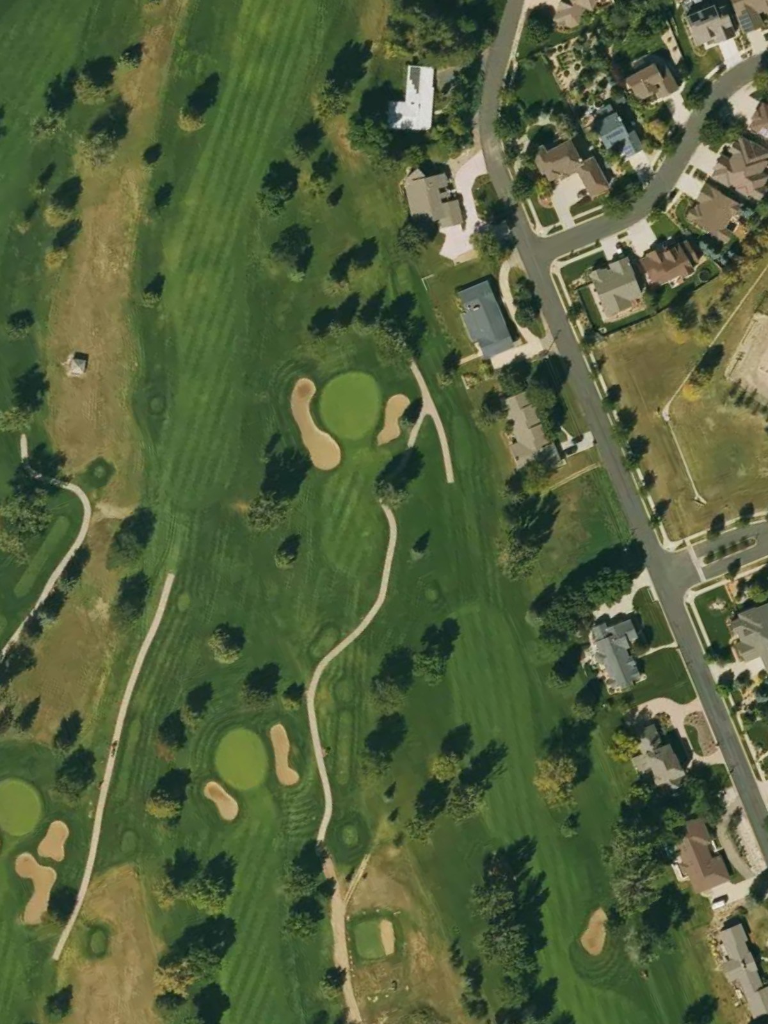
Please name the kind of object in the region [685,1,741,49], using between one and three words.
house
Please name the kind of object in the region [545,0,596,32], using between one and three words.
house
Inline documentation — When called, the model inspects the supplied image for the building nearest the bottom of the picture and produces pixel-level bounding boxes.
[720,926,768,1016]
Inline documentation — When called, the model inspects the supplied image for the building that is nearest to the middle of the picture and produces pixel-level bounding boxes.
[503,393,561,474]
